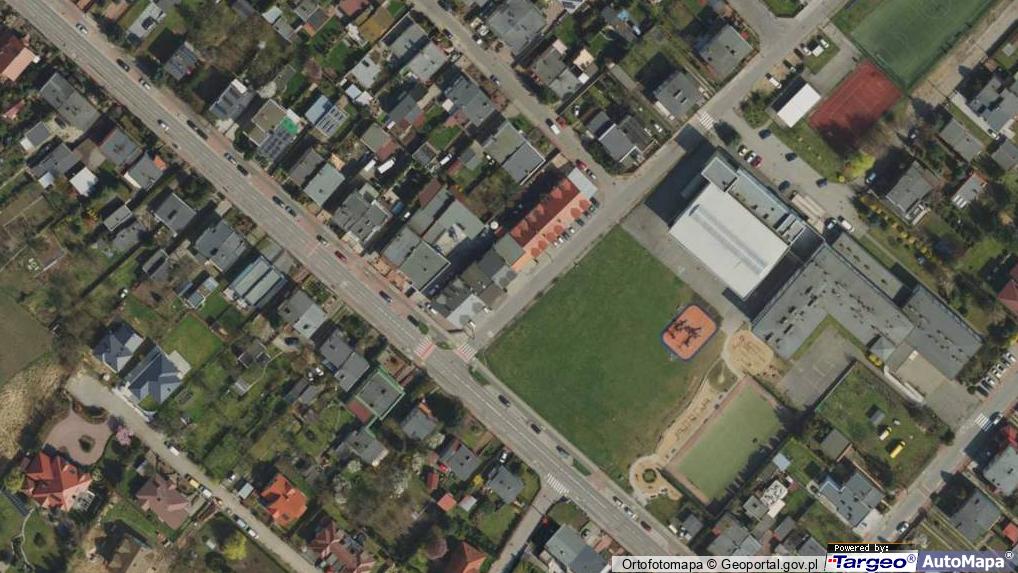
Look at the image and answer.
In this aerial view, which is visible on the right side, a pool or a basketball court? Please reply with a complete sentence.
What appears on the right side is a basketball court.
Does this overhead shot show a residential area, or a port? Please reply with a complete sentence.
It's a residential area.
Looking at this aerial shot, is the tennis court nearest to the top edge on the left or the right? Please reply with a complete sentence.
The tennis court nearest to the top edge sits on the right side.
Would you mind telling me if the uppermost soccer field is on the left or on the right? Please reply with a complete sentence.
The uppermost soccer field appears in the right half of the scene.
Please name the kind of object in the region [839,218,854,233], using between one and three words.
vehicle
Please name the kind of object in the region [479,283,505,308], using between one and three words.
house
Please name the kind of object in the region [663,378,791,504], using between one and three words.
sports field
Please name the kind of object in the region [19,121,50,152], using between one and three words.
shed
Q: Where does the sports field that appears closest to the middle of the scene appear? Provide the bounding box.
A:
[488,230,734,483]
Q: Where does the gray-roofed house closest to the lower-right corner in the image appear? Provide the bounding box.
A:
[951,490,1004,542]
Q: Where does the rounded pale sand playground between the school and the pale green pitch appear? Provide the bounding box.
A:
[721,329,775,379]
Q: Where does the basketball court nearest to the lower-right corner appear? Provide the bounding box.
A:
[791,343,843,401]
